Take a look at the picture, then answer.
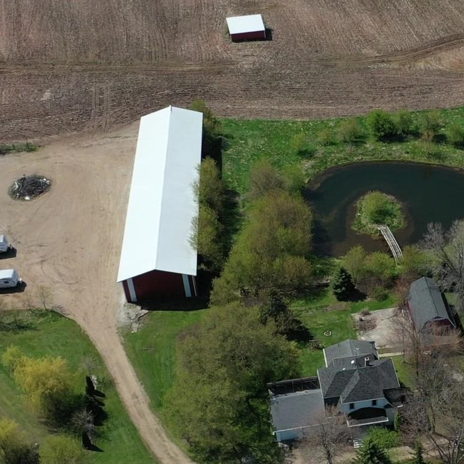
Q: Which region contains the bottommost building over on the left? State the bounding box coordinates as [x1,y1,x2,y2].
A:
[111,106,205,323]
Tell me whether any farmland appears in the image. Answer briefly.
Yes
